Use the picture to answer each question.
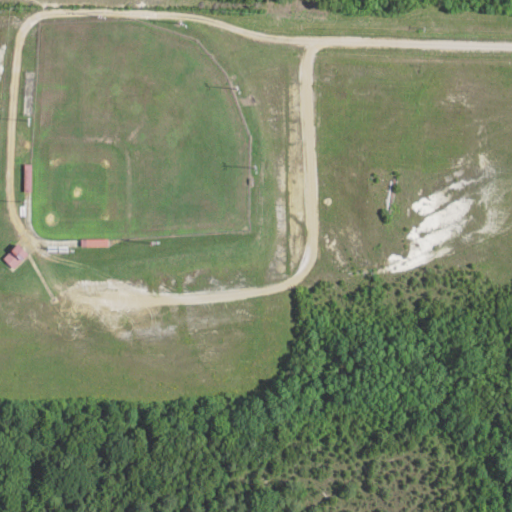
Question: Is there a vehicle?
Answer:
No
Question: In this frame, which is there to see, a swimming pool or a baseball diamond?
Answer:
baseball diamond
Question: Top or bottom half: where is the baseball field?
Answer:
top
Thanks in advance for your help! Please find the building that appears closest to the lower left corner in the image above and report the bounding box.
[4,244,31,272]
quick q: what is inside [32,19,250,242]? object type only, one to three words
baseball field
